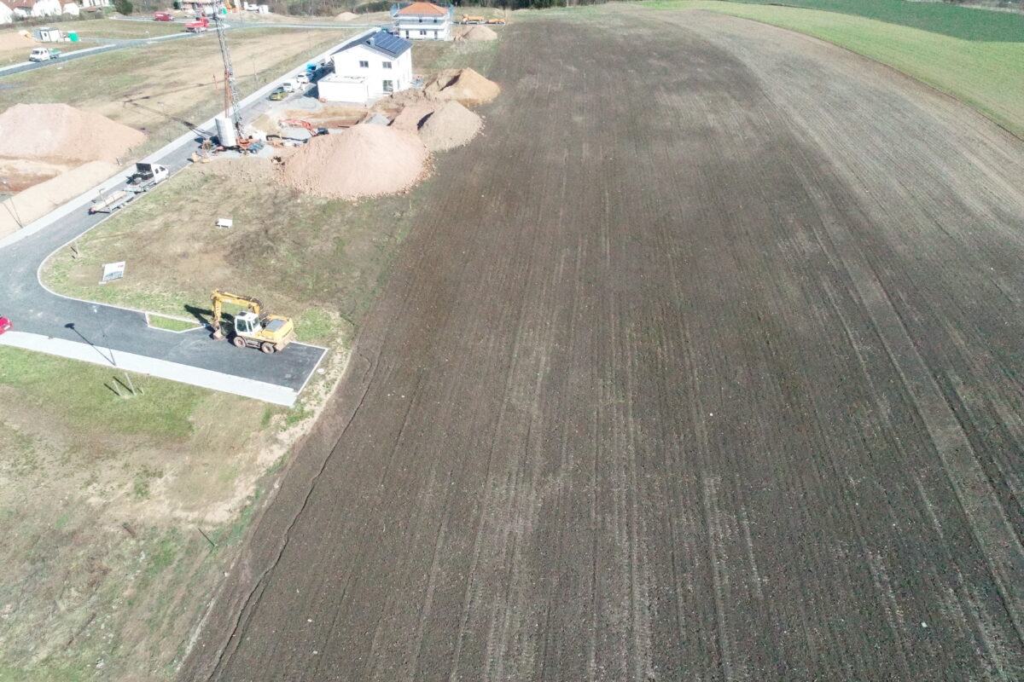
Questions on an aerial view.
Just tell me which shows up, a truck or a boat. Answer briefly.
truck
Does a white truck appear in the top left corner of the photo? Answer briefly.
Yes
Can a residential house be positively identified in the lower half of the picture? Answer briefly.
No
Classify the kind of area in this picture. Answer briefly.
farmland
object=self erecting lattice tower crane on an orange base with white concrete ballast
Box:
[199,0,255,152]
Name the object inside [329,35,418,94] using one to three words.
house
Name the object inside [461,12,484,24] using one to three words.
vehicle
